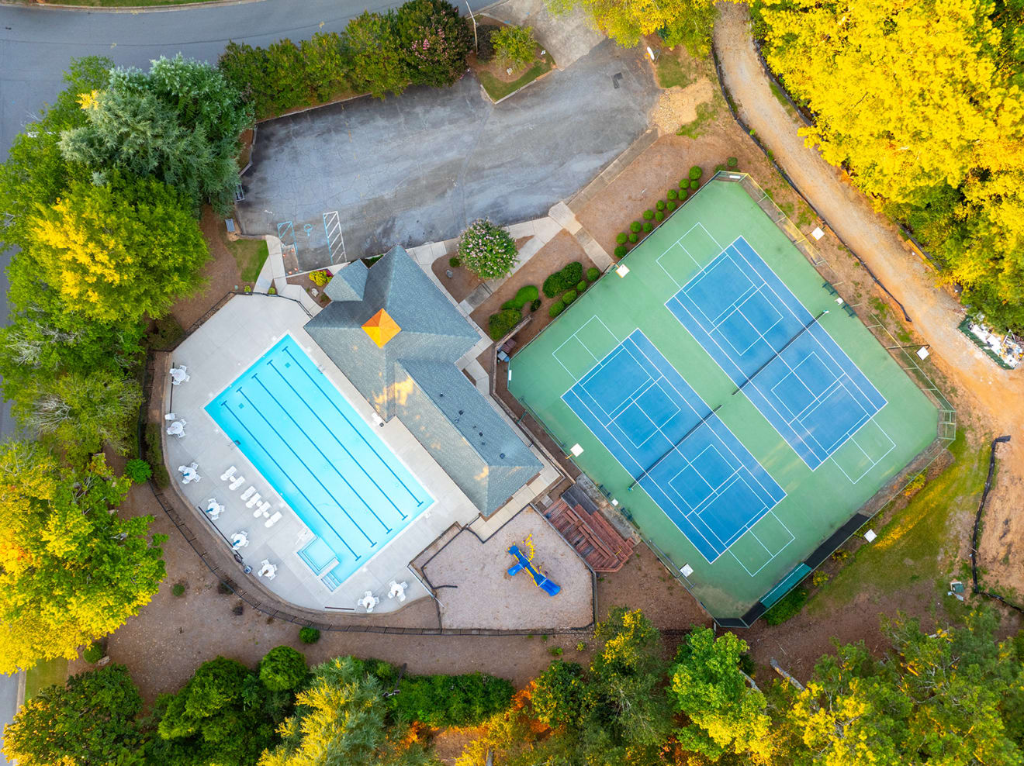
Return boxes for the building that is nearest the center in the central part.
[305,245,542,518]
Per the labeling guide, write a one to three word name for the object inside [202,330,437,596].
swimming pool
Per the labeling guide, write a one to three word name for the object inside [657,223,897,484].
tennis court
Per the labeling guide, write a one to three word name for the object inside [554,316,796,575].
tennis court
